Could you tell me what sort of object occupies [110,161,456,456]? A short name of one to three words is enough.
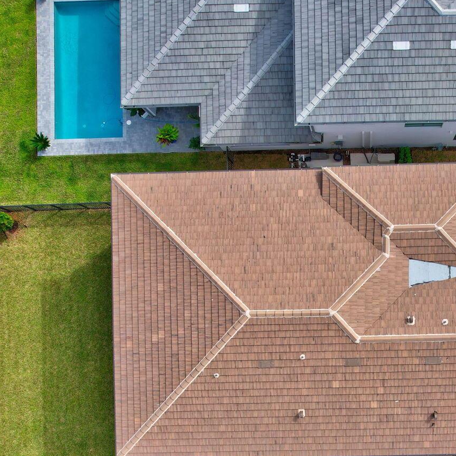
house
